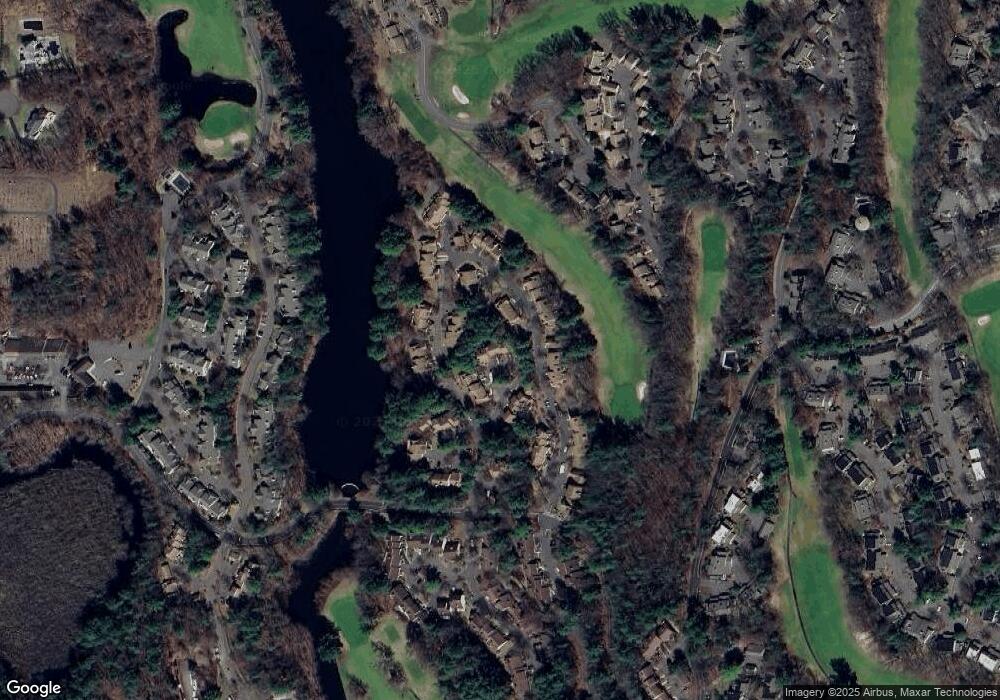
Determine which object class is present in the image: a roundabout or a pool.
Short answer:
pool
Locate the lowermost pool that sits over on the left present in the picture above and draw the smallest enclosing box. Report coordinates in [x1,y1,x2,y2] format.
[169,171,190,193]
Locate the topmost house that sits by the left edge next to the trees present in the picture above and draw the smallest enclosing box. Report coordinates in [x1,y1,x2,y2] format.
[13,37,60,70]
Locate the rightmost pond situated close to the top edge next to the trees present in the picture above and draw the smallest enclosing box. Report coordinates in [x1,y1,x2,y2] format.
[155,10,257,121]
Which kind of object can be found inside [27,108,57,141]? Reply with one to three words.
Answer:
house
